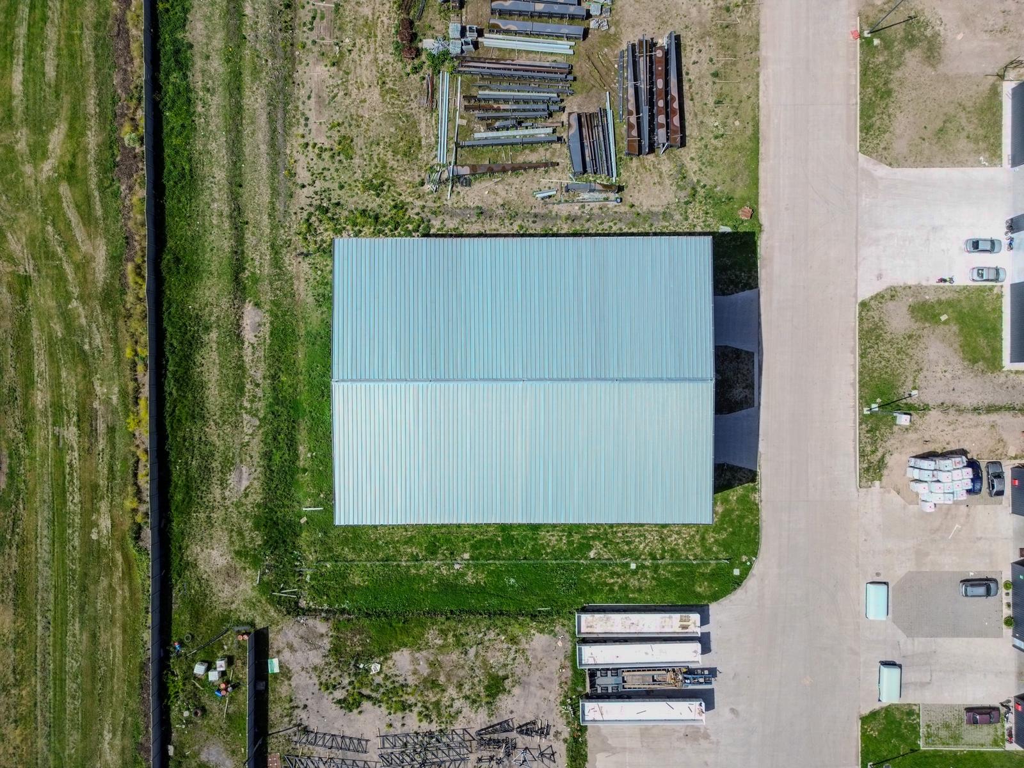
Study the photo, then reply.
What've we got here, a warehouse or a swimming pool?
warehouse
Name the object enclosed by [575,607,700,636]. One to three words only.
trailer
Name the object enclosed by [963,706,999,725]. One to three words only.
car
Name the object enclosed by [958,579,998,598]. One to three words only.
car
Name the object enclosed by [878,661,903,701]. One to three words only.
vehicle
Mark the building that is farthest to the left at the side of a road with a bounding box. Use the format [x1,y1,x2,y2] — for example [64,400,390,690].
[330,236,716,526]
